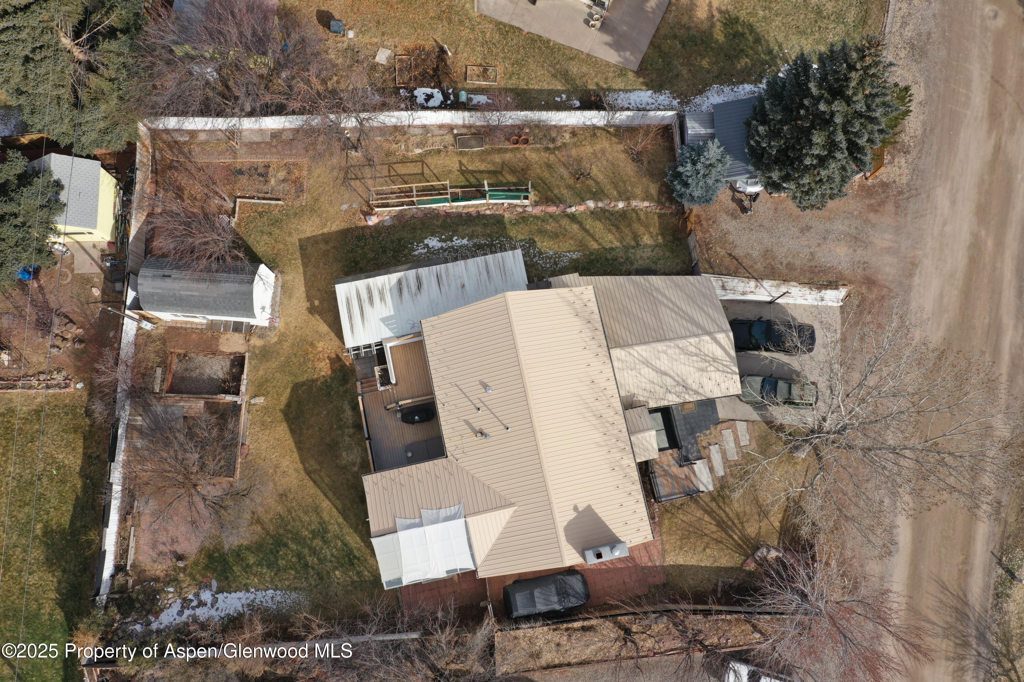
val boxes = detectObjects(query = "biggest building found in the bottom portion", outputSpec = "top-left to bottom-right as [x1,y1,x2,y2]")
[363,283,658,580]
